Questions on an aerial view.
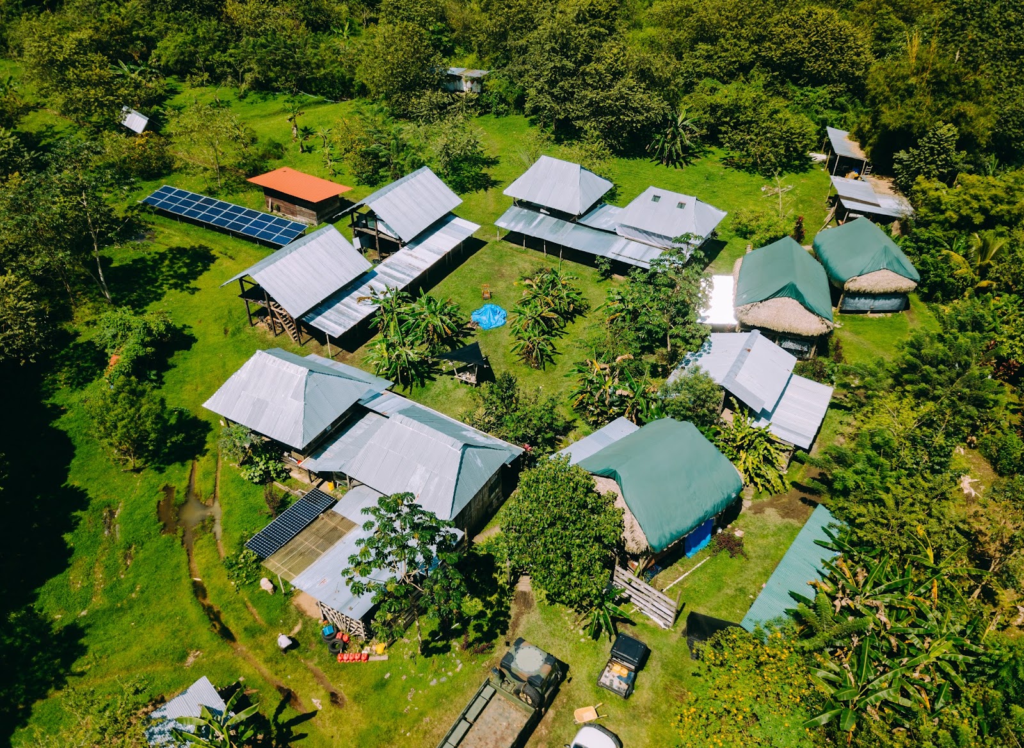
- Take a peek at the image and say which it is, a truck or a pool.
truck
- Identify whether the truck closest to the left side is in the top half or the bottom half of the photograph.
bottom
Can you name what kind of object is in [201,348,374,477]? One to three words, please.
house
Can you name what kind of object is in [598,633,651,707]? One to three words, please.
truck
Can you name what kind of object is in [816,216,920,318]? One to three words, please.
shed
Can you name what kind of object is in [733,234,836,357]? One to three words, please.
shed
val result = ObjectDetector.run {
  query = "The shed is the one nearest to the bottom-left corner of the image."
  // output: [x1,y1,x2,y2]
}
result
[147,676,234,748]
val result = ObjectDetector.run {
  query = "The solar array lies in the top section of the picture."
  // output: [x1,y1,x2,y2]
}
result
[142,185,308,250]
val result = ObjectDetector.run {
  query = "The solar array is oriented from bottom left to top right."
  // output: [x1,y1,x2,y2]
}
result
[245,489,336,577]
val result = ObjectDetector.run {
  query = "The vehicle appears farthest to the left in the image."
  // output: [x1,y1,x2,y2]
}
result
[439,633,575,748]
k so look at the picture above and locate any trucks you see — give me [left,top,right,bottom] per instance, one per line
[598,633,651,707]
[439,633,575,748]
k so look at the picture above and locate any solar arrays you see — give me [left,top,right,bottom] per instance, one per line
[142,185,308,250]
[245,489,336,577]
